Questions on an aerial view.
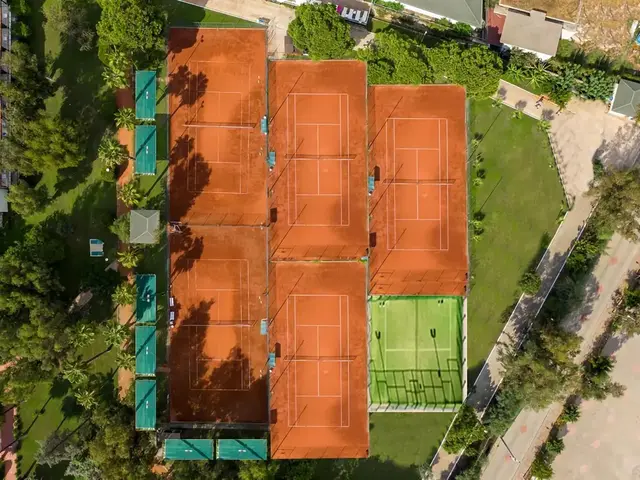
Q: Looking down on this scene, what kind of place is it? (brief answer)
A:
sports ground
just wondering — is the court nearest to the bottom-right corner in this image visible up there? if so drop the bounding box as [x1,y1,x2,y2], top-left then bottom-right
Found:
[369,296,468,412]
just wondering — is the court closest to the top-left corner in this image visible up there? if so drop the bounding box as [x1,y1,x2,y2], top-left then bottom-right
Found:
[168,28,268,225]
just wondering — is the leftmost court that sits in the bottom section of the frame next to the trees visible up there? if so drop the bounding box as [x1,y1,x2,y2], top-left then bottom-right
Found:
[168,225,268,424]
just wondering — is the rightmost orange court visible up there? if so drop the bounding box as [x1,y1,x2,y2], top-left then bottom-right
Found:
[368,85,468,295]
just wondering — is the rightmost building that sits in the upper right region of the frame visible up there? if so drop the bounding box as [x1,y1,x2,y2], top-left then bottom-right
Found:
[601,79,640,127]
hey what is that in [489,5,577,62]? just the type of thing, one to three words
house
